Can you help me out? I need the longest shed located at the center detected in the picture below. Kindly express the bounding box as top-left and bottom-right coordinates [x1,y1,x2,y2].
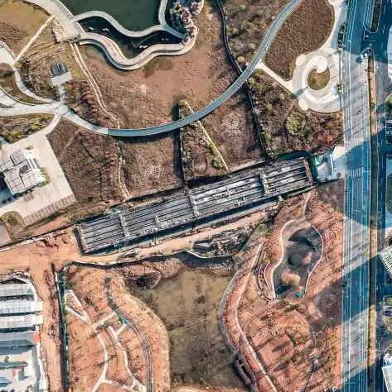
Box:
[79,158,316,252]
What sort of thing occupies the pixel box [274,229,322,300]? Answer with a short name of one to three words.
pond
